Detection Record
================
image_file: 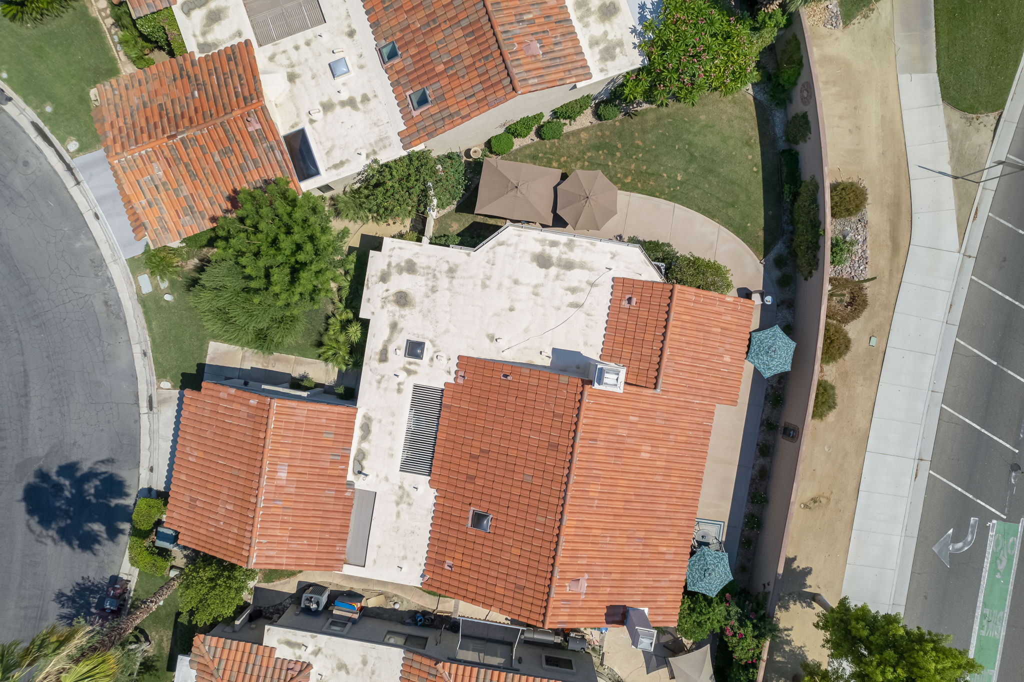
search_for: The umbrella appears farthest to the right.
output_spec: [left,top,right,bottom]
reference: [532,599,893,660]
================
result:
[746,325,797,378]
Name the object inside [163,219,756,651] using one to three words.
house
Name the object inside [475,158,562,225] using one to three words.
umbrella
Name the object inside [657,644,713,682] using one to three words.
umbrella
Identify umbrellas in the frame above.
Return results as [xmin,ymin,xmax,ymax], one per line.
[687,546,733,598]
[557,170,617,230]
[475,158,562,225]
[746,325,797,378]
[657,644,713,682]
